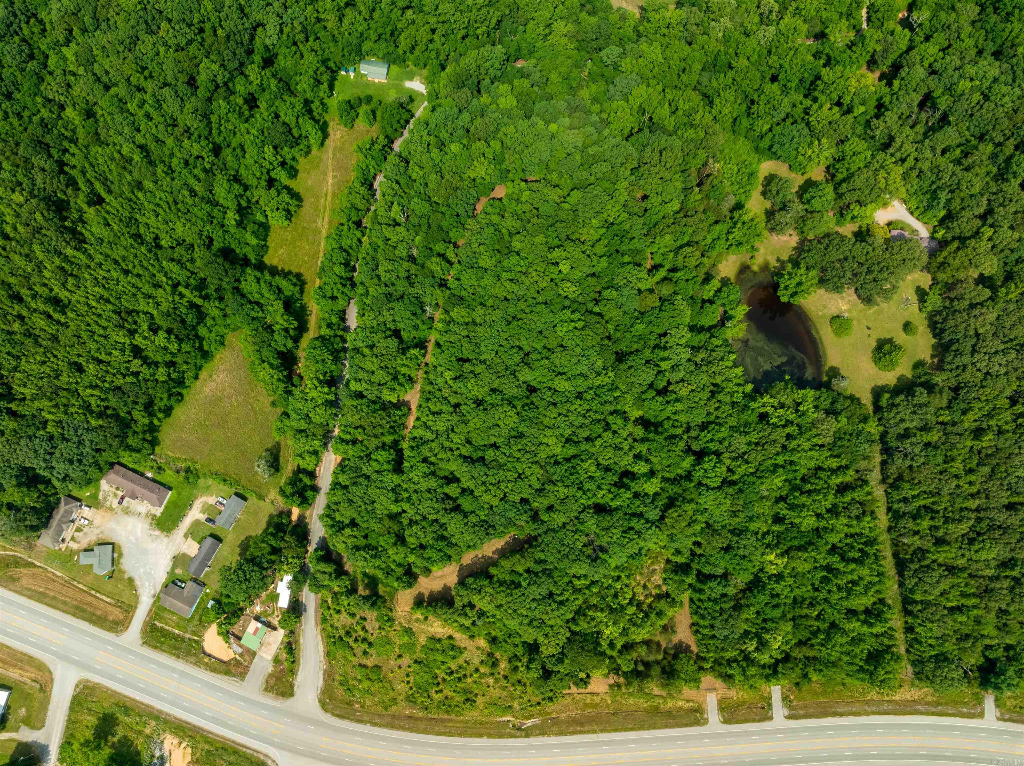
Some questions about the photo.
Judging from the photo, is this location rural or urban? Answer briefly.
rural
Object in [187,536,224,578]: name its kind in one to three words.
house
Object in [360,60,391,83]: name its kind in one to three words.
house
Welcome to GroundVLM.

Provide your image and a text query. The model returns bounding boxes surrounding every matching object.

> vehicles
[259,617,269,625]
[118,495,126,505]
[217,496,227,503]
[78,517,89,525]
[81,505,92,511]
[215,503,225,509]
[206,517,216,524]
[175,579,185,587]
